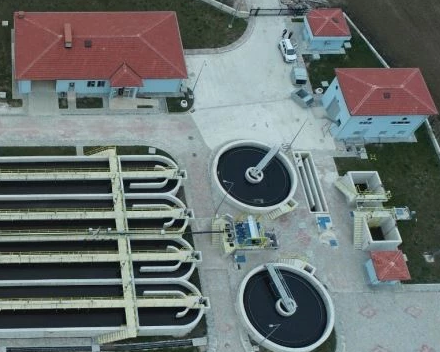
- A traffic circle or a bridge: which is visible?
bridge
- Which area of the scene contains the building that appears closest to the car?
top right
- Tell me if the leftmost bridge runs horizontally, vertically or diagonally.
vertically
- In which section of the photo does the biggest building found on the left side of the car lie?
top left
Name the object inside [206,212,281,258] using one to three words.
building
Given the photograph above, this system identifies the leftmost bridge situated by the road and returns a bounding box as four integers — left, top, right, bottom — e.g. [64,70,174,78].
[106,142,139,338]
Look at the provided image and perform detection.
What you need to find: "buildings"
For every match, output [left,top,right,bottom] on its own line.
[206,212,281,258]
[13,11,188,106]
[363,250,413,286]
[303,9,352,53]
[320,67,440,144]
